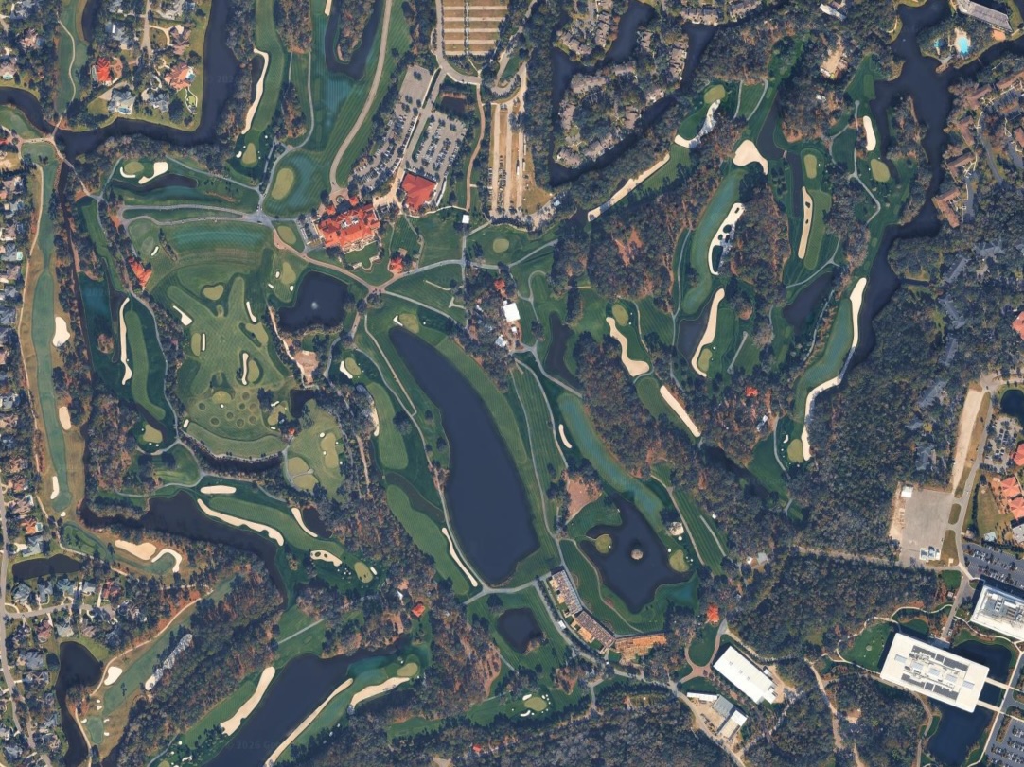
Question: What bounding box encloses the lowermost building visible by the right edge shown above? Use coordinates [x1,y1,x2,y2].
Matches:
[882,634,991,713]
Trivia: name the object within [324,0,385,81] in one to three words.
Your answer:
pond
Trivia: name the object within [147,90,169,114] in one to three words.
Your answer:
house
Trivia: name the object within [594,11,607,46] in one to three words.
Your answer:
building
